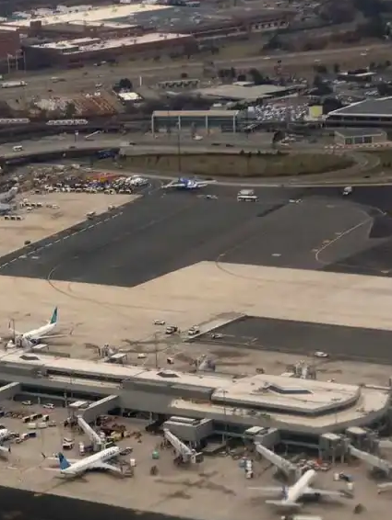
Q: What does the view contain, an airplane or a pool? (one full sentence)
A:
This aerial view contains an airplane.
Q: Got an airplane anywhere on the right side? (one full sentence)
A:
Yes, an airplane is visible on the right side.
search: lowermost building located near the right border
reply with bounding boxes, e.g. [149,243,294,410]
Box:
[335,127,390,151]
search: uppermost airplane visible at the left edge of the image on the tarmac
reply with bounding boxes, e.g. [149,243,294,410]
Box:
[6,310,69,348]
